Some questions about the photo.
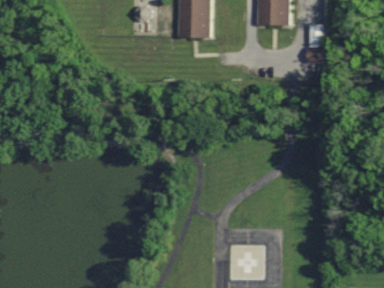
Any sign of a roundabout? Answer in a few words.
No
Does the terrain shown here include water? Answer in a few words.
Yes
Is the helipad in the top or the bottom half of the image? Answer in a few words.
bottom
